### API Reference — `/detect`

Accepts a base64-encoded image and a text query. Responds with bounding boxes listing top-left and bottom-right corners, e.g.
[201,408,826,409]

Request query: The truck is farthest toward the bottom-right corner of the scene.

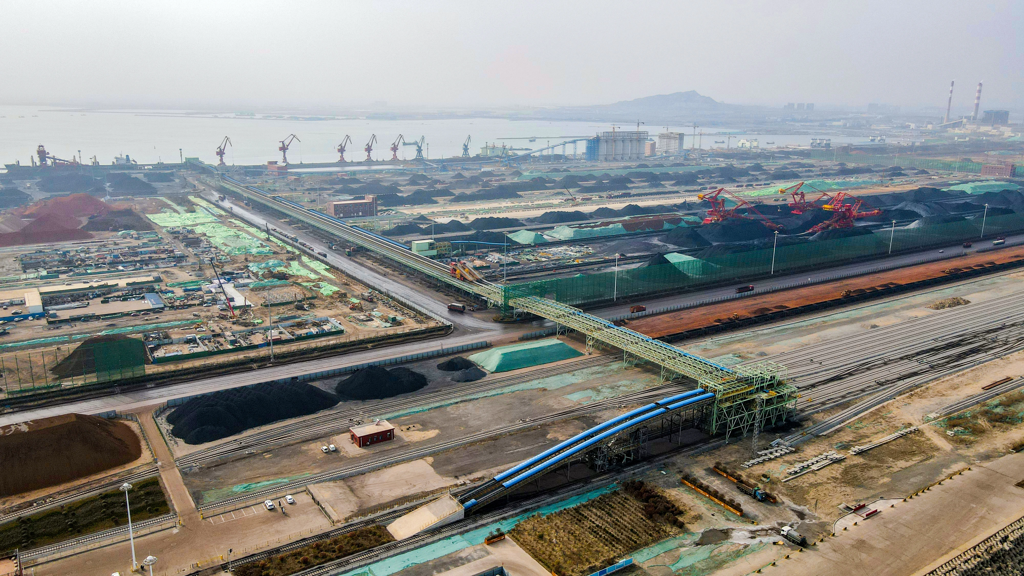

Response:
[774,523,813,546]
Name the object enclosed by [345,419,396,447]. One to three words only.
shed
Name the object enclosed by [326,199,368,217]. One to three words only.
building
